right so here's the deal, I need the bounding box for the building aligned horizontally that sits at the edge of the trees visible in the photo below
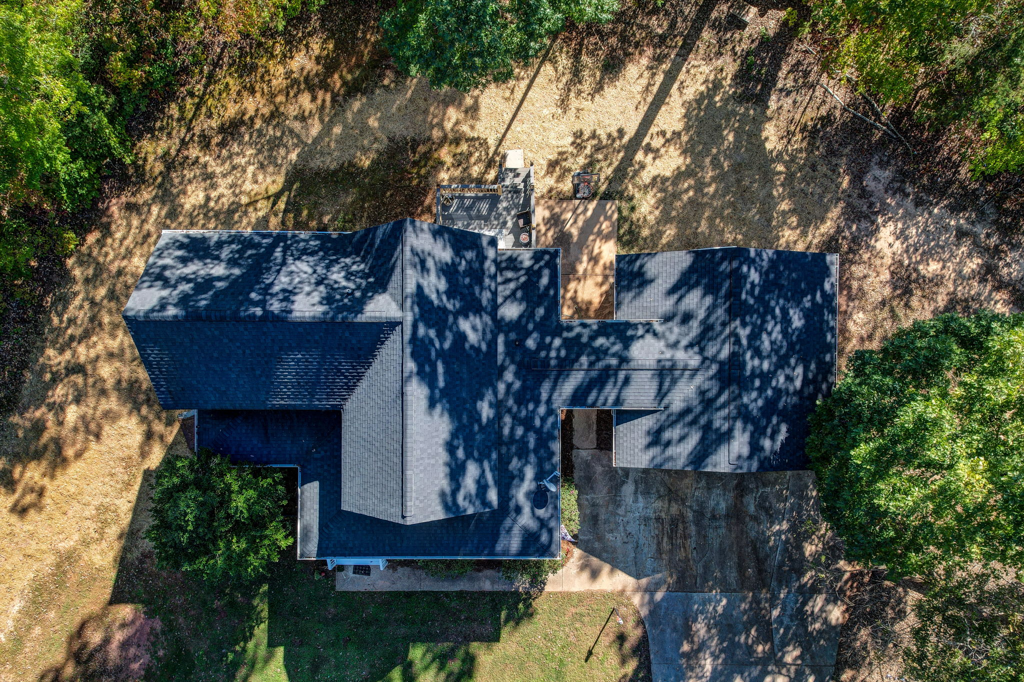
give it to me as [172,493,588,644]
[125,219,837,570]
